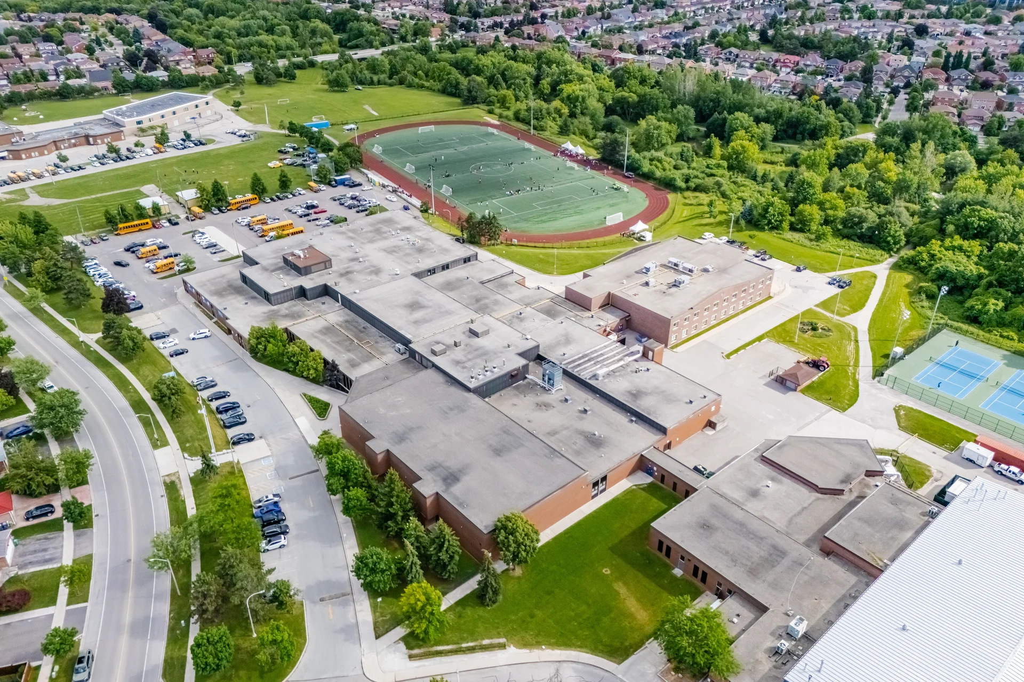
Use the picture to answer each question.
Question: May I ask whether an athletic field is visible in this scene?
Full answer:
Yes, this view includes an athletic field.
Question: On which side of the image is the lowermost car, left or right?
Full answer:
You can find the lowermost car on the left side of the picture.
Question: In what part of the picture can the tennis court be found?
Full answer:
The tennis court sits in the right section of the image.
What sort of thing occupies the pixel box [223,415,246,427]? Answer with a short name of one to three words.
vehicle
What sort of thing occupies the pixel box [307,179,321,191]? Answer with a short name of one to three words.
vehicle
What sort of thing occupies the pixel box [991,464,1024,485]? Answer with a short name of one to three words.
truck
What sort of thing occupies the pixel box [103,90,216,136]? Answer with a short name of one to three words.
building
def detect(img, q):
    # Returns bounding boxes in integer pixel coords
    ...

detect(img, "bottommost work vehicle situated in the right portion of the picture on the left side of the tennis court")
[793,358,826,373]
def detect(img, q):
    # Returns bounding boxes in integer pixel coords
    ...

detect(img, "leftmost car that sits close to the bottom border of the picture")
[71,649,94,680]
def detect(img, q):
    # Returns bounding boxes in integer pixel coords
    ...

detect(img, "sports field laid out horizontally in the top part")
[364,124,647,234]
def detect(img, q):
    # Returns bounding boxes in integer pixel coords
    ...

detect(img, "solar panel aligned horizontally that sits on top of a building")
[110,91,207,115]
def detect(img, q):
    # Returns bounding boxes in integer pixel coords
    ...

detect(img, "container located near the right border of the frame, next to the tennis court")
[976,432,1024,469]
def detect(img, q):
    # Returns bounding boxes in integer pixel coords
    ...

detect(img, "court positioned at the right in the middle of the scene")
[882,334,1024,438]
